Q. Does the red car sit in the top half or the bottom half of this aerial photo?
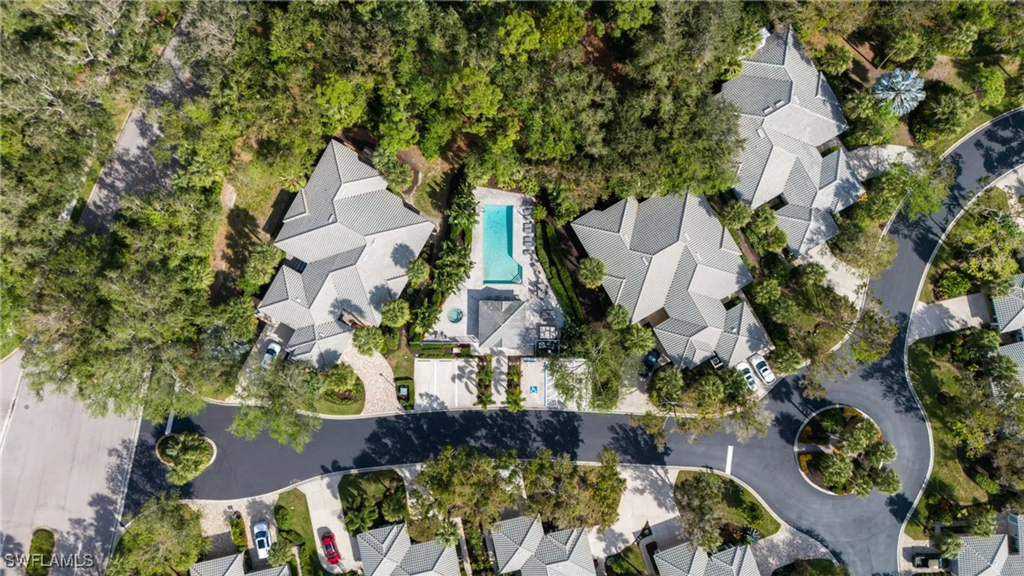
bottom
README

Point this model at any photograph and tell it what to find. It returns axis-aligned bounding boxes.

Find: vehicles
[749,350,780,388]
[735,360,763,397]
[255,339,282,375]
[249,522,270,561]
[637,346,663,382]
[909,555,951,574]
[319,531,340,568]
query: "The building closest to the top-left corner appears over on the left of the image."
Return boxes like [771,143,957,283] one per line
[261,138,434,371]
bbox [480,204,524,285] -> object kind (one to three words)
swimming pool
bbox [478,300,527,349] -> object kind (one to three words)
building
